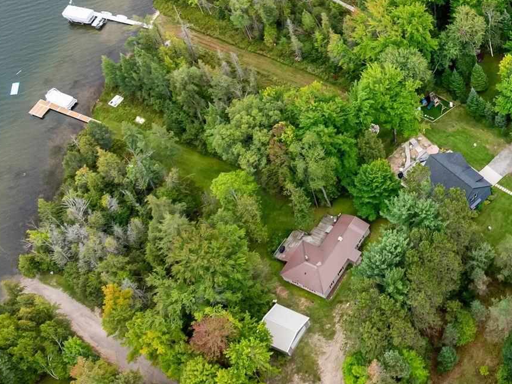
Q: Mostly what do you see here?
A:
trees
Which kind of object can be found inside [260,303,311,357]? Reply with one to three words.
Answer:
shed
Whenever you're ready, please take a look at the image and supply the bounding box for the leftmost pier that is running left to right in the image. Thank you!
[30,100,101,123]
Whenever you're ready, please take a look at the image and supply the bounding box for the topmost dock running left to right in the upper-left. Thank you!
[92,9,159,28]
